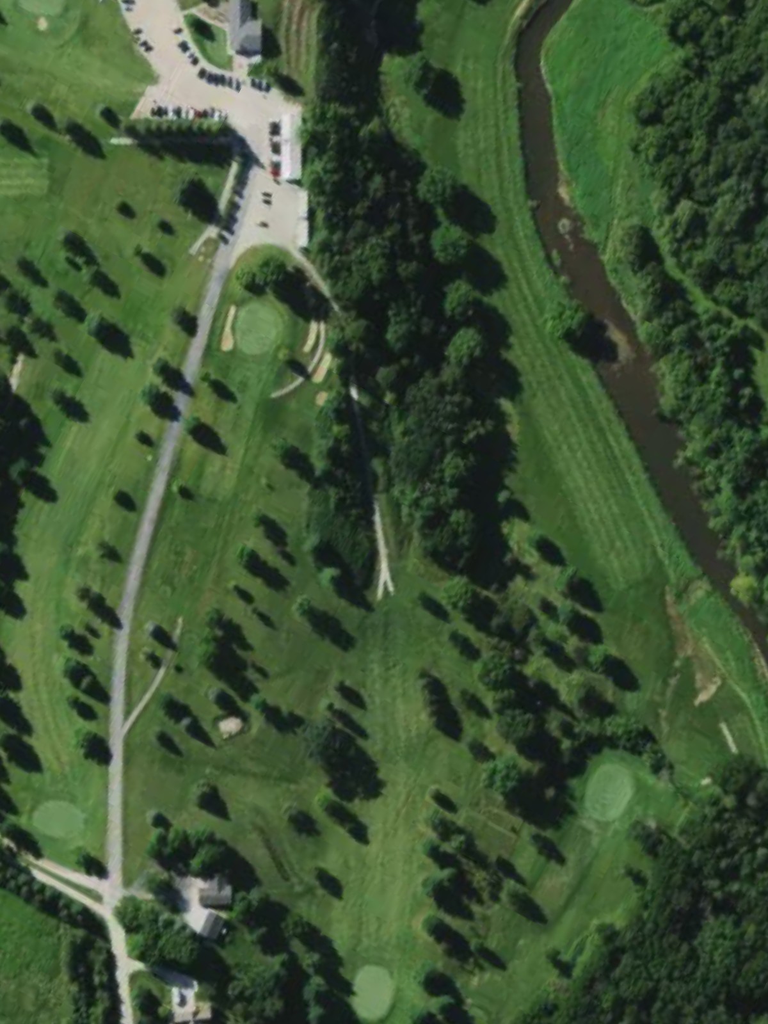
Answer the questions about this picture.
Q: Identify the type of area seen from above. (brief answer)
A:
golf course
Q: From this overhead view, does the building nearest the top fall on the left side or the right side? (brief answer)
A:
left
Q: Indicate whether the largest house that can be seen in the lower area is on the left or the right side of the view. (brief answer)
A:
left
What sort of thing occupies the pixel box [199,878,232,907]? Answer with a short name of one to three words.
house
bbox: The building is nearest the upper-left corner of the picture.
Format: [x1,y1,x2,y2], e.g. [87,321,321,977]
[228,0,262,52]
